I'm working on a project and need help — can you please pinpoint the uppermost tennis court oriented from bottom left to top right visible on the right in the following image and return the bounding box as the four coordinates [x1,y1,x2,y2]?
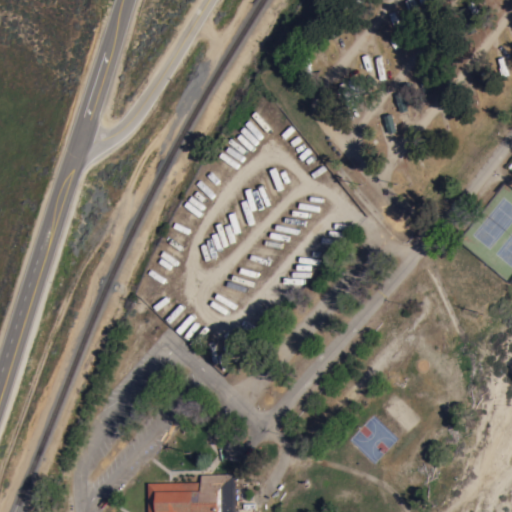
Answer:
[459,184,512,262]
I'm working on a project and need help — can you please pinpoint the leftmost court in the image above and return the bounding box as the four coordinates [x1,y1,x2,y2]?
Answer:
[353,416,398,464]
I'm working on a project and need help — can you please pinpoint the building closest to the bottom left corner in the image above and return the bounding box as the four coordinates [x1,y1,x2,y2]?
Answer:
[147,476,236,512]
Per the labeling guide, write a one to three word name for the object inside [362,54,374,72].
vehicle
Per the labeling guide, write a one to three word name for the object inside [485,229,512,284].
tennis court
